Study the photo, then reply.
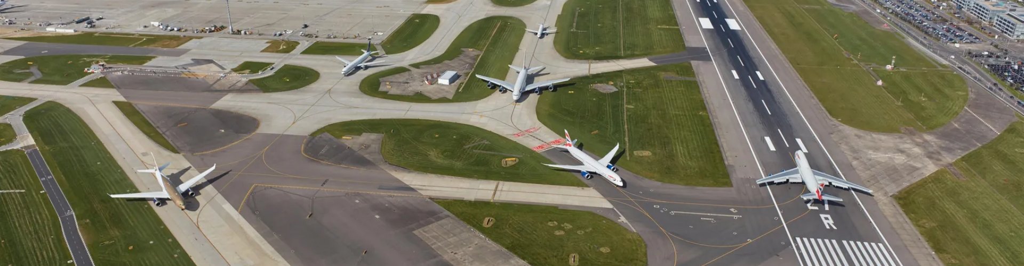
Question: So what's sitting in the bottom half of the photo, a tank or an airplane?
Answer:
airplane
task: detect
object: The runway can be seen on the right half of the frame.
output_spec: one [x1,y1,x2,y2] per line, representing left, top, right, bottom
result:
[687,0,904,266]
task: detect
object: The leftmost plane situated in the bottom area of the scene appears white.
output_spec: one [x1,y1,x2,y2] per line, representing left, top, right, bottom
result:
[107,152,215,210]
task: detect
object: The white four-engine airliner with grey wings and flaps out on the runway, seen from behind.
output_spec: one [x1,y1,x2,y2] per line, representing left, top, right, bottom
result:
[758,150,874,202]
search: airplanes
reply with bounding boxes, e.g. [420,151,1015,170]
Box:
[476,49,570,102]
[525,21,556,37]
[107,152,215,210]
[542,129,623,186]
[758,150,874,202]
[336,40,384,75]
